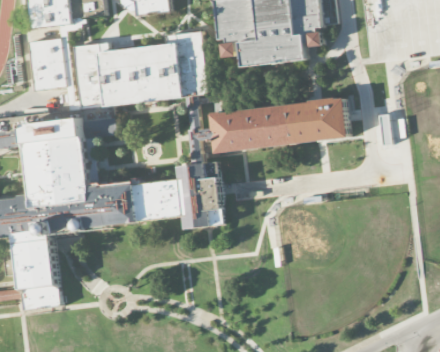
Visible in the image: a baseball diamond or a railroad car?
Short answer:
baseball diamond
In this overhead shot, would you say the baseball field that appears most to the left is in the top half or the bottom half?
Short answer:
bottom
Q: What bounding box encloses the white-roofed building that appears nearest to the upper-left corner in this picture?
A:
[30,0,76,28]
